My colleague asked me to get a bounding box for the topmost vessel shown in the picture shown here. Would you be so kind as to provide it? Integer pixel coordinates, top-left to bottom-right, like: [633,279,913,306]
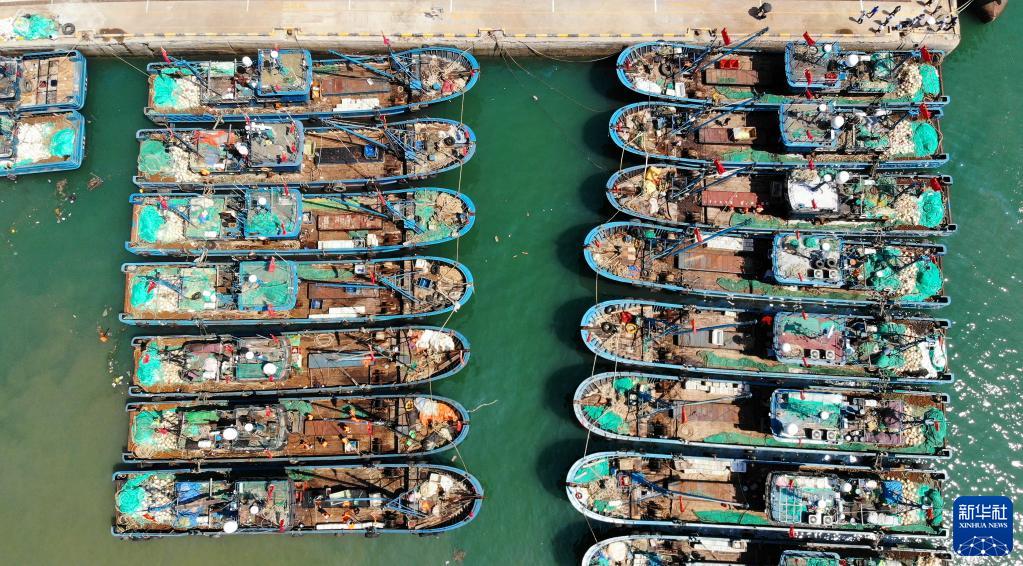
[958,0,1011,24]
